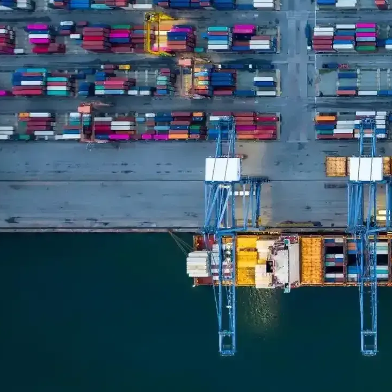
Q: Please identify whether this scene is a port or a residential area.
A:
port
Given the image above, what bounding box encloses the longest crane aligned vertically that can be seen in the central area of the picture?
[200,116,271,358]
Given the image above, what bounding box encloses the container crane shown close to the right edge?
[347,116,392,357]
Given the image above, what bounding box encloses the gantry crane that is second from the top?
[177,58,210,99]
